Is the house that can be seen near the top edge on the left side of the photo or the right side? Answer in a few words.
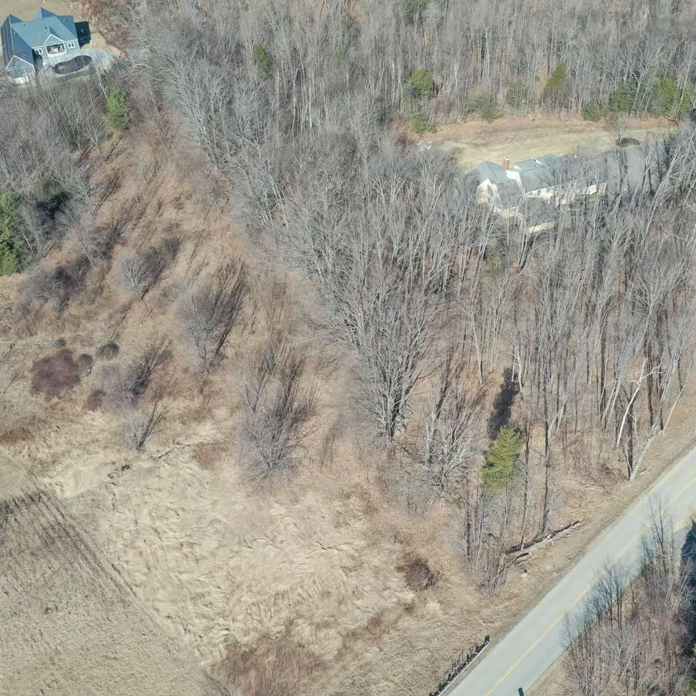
left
